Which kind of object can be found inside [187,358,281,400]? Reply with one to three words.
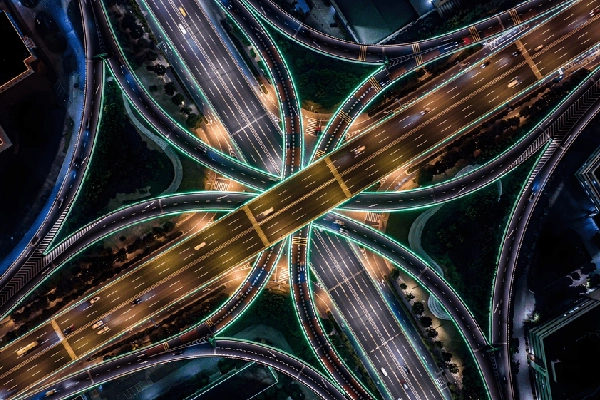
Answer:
building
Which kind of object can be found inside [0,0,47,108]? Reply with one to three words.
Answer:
building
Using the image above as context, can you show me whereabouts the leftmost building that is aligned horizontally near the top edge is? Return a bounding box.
[335,0,438,46]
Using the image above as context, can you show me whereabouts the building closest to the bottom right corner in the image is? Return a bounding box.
[526,288,600,400]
